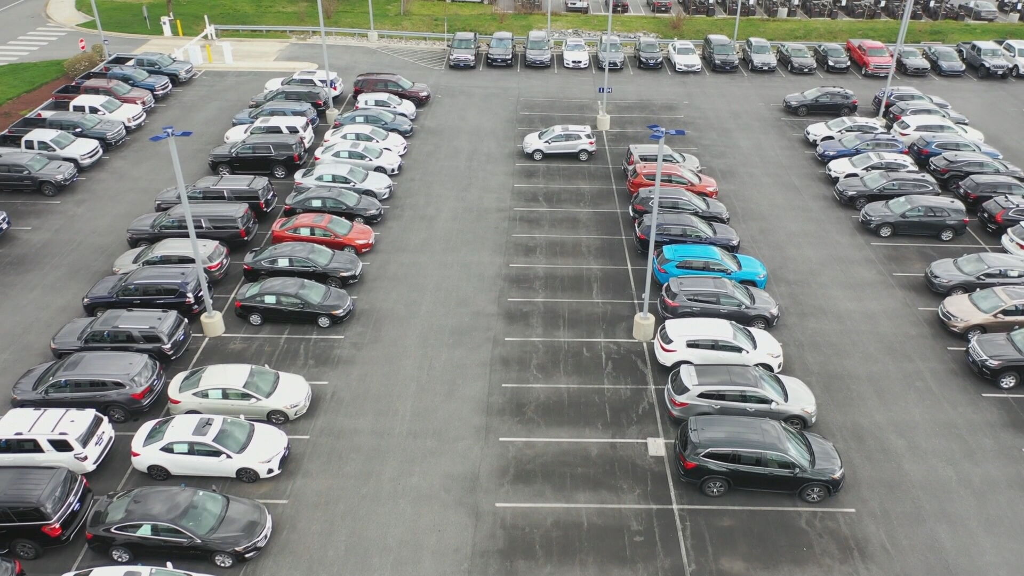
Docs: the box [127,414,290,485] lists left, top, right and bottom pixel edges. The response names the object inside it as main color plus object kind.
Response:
white car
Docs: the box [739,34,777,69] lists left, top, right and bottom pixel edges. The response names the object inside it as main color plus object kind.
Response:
gray car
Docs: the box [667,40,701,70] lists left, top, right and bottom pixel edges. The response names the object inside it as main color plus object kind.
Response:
white car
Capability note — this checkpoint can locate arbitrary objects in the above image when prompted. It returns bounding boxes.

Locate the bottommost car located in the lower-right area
[672,417,848,503]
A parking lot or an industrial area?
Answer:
parking lot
